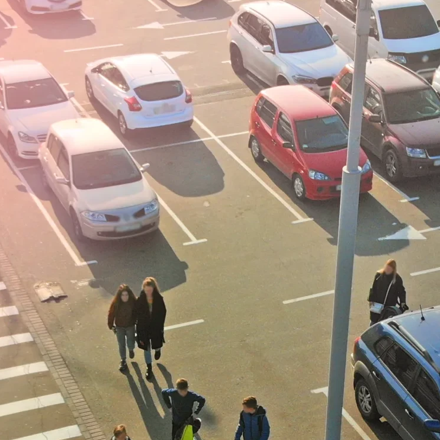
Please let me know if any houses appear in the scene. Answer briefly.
No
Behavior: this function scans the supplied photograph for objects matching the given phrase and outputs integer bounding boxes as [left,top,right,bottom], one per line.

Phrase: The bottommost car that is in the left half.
[35,118,162,244]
